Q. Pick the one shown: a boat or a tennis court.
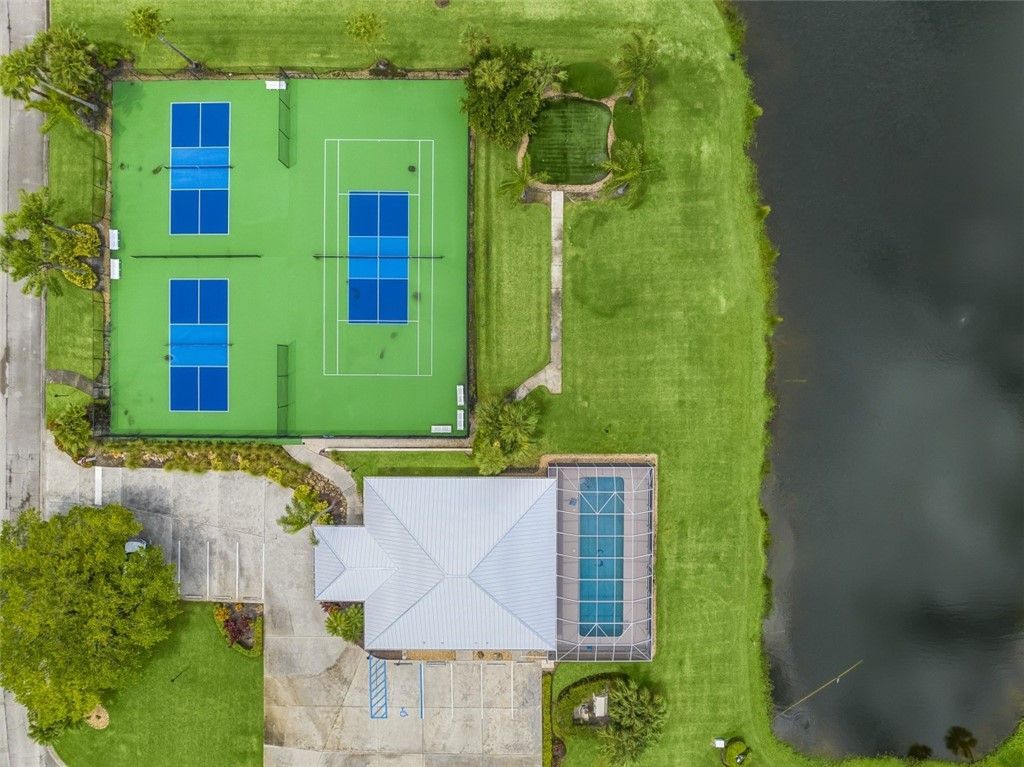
tennis court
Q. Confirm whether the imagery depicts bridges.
No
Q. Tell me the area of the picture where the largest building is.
bottom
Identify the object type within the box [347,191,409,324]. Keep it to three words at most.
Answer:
sports court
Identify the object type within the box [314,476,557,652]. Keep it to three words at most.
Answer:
building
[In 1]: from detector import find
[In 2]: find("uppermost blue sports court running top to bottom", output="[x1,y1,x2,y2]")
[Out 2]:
[170,102,231,235]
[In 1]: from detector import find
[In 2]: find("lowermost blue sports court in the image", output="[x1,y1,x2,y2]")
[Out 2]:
[168,279,229,412]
